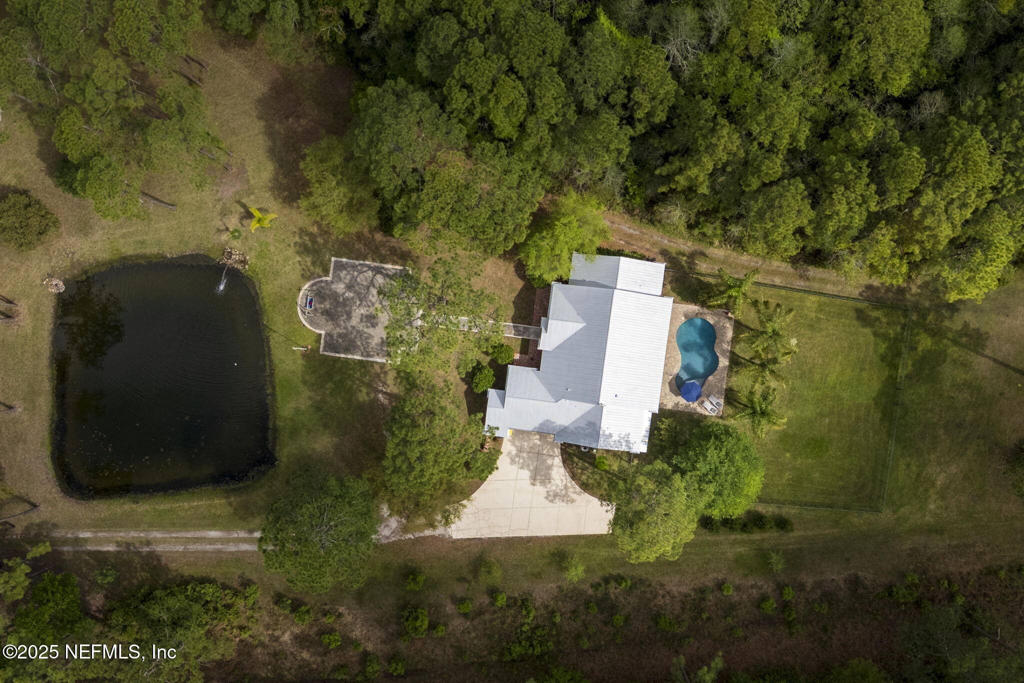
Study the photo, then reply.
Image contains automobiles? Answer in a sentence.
No, the frame has no automobile in it.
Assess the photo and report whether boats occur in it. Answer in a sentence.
No, I find no boat anywhere in the image.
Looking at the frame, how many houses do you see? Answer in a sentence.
The count comes to 1 house.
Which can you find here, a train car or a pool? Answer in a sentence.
Visible in the photo is a pool.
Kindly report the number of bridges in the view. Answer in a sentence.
Not a single bridge can be seen.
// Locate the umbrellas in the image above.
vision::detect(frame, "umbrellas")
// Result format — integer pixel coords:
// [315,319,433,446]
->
[678,380,700,402]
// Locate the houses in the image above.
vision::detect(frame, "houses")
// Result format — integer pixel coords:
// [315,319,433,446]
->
[485,252,674,455]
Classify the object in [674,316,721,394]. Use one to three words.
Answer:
swimming pool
